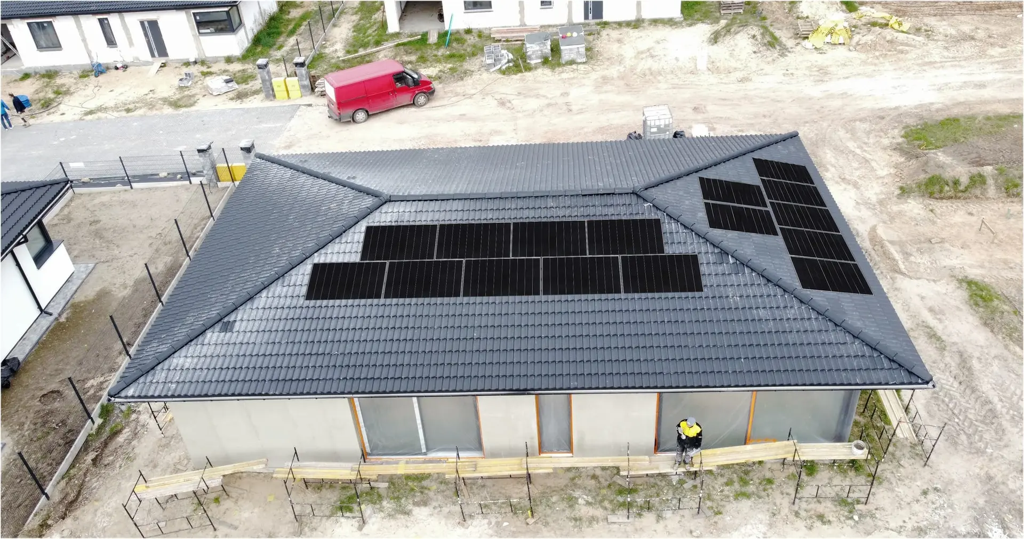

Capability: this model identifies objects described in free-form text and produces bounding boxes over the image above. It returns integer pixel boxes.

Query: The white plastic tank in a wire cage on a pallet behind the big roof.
[640,99,675,138]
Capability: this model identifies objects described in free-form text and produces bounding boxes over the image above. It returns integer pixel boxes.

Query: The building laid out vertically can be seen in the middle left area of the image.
[0,179,74,361]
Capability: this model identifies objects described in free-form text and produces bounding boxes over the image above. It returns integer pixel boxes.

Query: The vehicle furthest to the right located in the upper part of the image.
[322,56,438,122]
